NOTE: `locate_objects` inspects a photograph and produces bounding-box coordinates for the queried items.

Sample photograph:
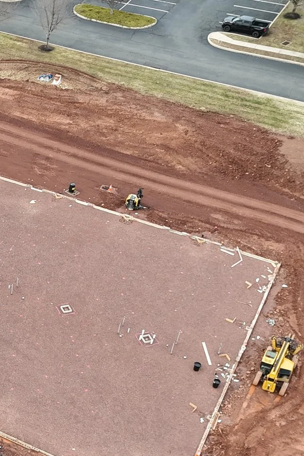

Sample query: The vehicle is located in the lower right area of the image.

[255,335,304,398]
